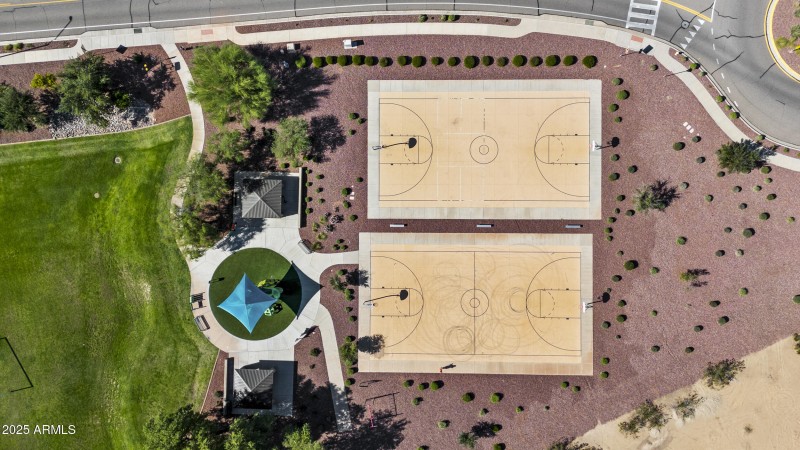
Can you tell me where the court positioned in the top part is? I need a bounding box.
[367,80,602,220]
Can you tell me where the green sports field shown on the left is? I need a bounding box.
[0,113,220,450]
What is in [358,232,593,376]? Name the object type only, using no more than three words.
basketball court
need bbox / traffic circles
[713,0,800,137]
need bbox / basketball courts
[367,80,602,220]
[358,232,593,376]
